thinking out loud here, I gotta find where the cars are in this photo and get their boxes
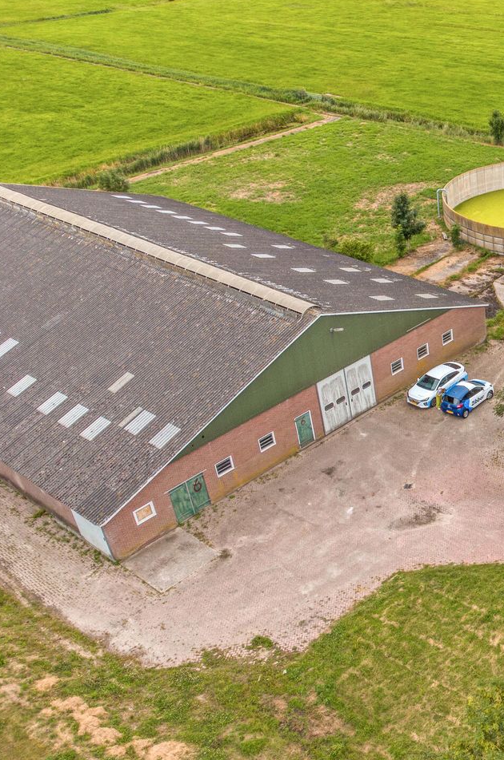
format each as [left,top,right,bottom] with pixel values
[439,378,495,418]
[408,355,470,404]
